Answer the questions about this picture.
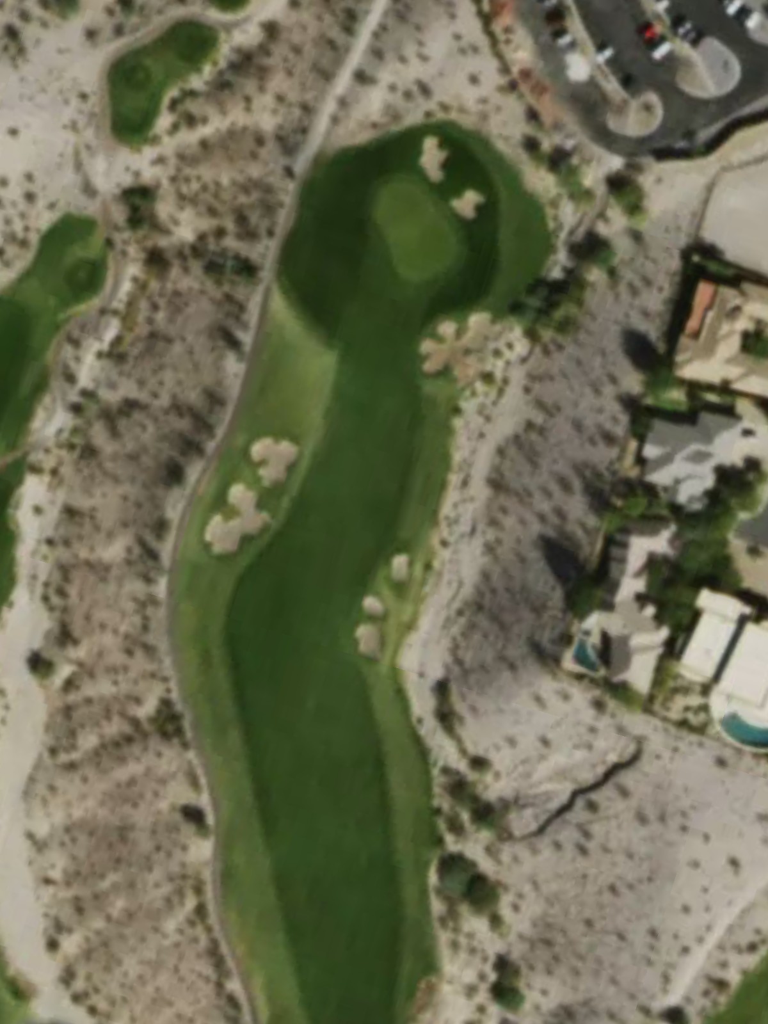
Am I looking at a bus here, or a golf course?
golf course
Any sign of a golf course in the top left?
Yes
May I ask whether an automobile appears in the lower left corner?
No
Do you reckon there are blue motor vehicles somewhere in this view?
No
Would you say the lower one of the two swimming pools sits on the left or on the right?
right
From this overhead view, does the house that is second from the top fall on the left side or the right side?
right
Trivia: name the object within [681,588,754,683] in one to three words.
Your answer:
house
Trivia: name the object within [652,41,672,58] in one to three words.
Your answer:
car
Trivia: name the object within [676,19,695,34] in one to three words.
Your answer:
car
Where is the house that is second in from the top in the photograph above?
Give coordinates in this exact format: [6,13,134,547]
[644,410,748,511]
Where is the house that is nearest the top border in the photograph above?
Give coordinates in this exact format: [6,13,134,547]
[680,278,768,398]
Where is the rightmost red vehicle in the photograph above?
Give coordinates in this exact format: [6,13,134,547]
[639,23,659,38]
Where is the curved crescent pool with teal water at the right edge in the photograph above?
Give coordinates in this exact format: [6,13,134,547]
[722,710,768,753]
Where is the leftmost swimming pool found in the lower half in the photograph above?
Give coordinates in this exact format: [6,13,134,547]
[572,637,602,674]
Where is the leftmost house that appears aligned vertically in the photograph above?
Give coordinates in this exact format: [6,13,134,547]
[598,514,679,698]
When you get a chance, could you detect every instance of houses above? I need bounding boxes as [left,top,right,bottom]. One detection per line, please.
[681,588,754,683]
[721,623,768,708]
[680,278,768,398]
[598,514,679,698]
[644,410,748,511]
